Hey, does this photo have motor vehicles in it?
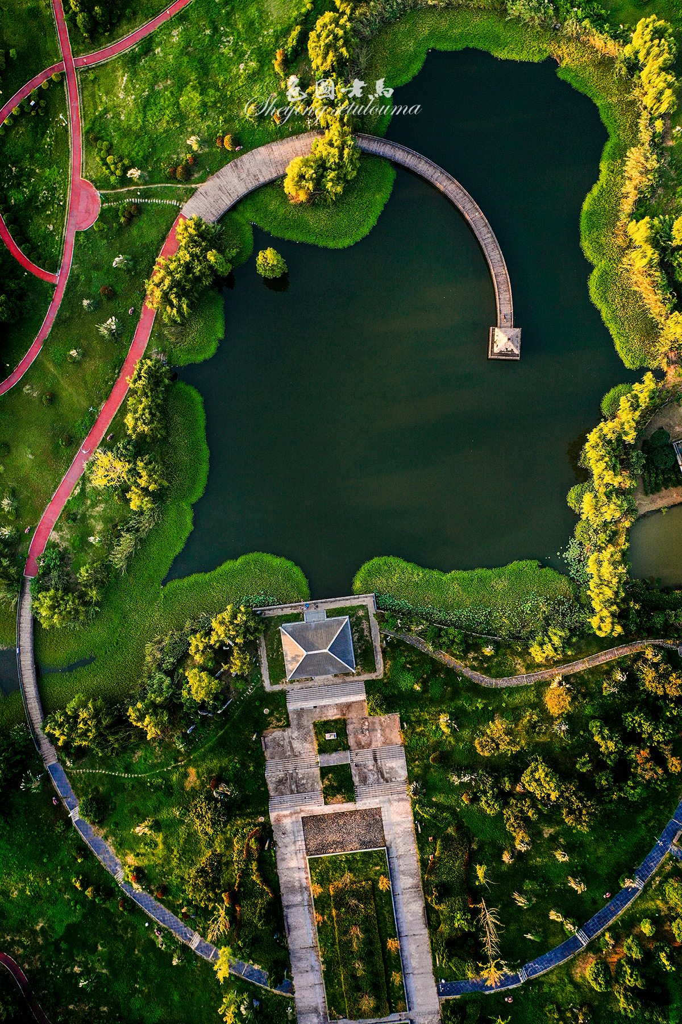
No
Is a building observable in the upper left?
No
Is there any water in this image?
Yes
